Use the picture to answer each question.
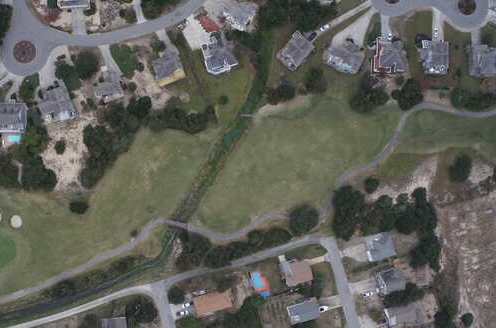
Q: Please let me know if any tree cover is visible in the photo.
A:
Yes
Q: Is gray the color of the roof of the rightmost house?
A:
Yes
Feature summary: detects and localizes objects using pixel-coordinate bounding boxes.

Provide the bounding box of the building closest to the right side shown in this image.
[464,43,496,80]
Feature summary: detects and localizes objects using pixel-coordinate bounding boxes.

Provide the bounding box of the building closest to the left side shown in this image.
[0,103,30,135]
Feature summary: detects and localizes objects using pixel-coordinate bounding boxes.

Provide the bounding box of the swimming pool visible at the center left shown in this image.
[1,133,23,148]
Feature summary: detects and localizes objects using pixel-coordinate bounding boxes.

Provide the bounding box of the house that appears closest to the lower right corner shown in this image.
[384,304,424,328]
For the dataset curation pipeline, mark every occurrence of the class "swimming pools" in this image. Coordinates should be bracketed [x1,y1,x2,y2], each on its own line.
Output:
[1,133,23,148]
[252,271,270,293]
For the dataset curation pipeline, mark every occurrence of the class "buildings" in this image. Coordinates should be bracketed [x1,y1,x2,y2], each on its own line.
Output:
[464,43,496,80]
[277,29,315,74]
[102,317,127,328]
[416,39,449,77]
[194,289,232,315]
[58,0,89,10]
[219,4,255,35]
[373,35,406,75]
[325,45,367,76]
[364,233,395,262]
[285,297,321,323]
[384,304,424,328]
[278,258,313,285]
[40,84,77,125]
[0,103,30,135]
[151,48,186,85]
[94,66,125,104]
[200,35,239,79]
[372,267,406,293]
